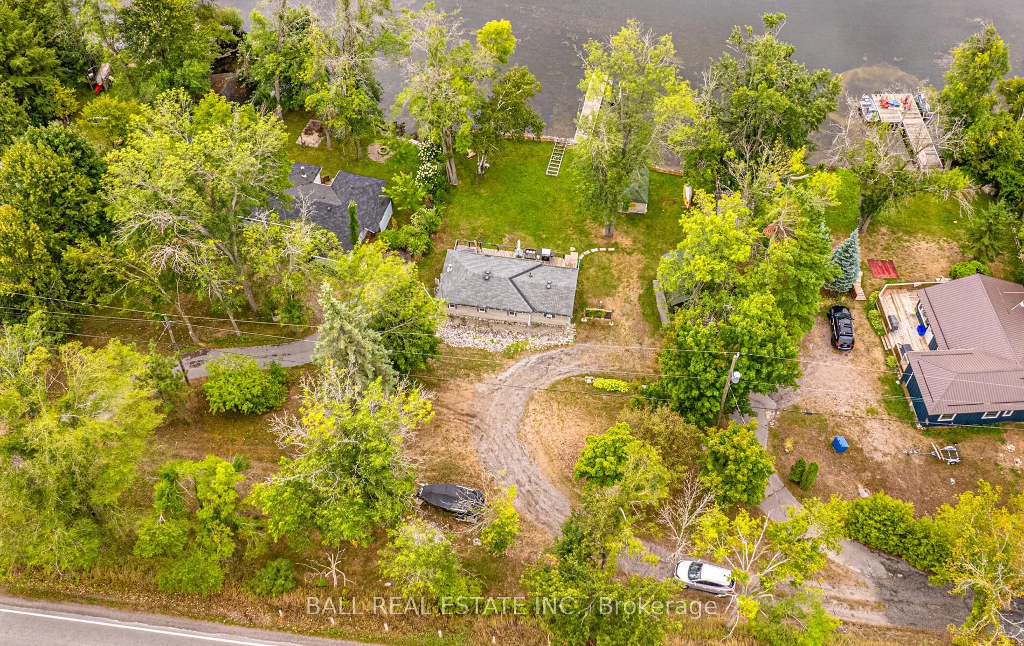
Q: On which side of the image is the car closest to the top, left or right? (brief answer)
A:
right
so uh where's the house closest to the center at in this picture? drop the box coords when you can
[426,251,580,329]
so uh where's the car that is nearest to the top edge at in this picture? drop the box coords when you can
[826,306,858,353]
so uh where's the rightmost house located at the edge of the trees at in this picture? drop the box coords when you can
[898,271,1024,431]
